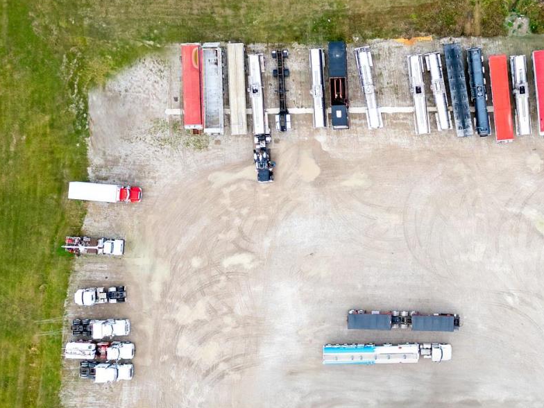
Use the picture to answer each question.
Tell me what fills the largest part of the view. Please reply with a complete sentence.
Most of the picture is covered by paved ground.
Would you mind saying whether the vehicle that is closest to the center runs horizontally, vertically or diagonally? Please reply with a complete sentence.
In this picture, the vehicle that is closest to the center lies vertically.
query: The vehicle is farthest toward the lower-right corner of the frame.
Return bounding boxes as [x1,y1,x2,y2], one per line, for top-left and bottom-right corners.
[415,341,452,362]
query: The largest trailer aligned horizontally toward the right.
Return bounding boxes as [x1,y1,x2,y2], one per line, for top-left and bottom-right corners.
[323,340,418,362]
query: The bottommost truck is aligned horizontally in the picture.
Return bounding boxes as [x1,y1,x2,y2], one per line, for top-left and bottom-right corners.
[80,359,135,383]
